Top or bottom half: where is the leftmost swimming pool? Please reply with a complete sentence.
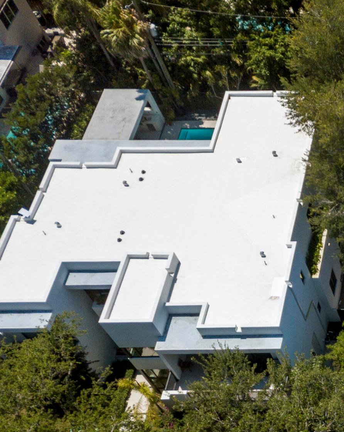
The leftmost swimming pool sits in the top half of the picture.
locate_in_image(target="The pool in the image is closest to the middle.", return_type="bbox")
[174,126,217,141]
